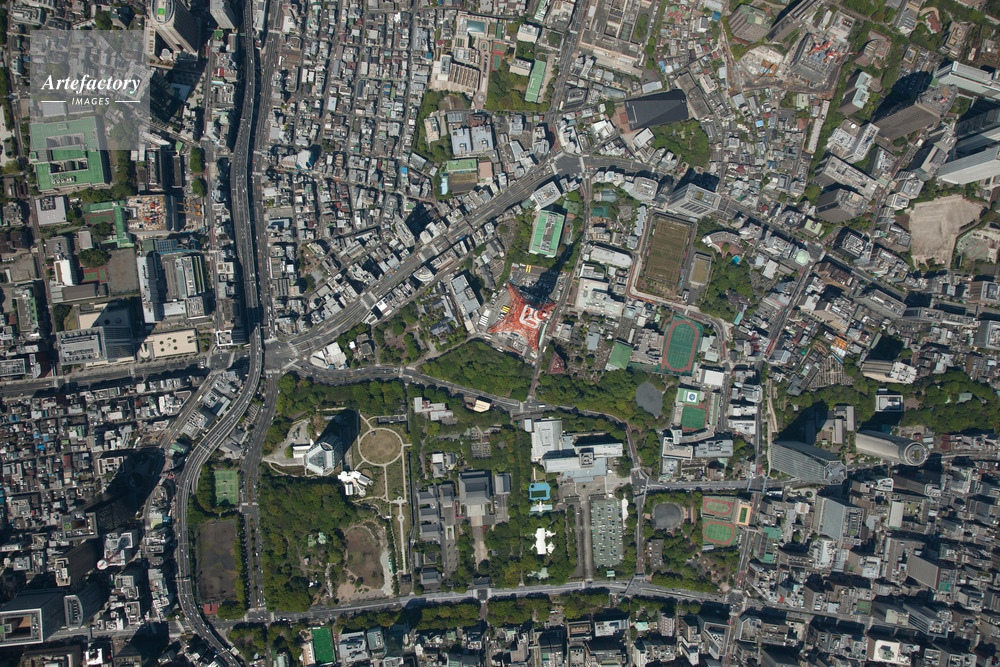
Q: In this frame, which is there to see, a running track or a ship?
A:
running track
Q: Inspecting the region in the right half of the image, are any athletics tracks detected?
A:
Yes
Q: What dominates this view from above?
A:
buildings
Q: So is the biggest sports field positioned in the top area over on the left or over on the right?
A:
right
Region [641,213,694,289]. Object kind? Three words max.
sports field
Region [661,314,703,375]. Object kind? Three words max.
running track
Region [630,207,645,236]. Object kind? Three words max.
building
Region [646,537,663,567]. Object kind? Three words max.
house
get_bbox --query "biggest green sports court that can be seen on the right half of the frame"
[682,399,709,431]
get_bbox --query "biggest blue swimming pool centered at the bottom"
[529,483,550,500]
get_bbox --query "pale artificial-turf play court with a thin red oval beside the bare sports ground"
[957,229,1000,262]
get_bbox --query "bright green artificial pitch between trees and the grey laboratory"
[312,627,334,665]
